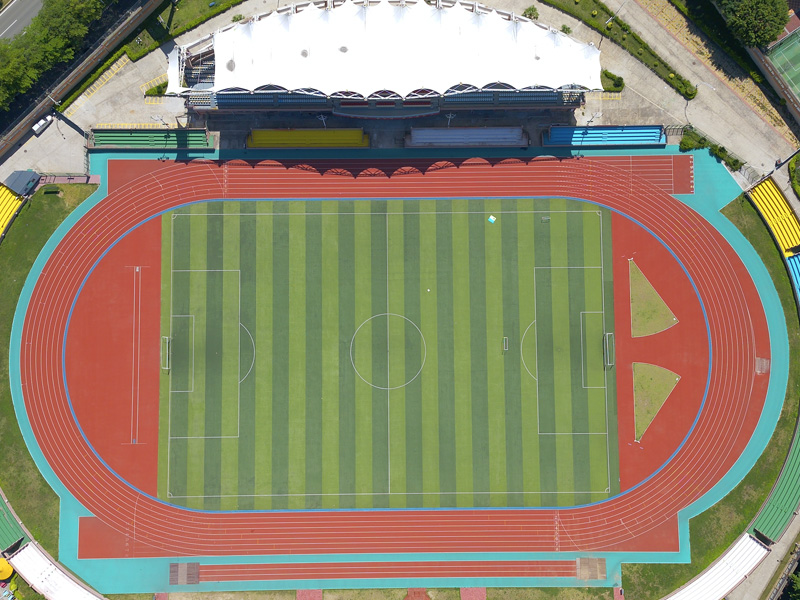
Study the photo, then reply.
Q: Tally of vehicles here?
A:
1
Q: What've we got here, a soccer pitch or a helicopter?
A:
soccer pitch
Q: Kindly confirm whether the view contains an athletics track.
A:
Yes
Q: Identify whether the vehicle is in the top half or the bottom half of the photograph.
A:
top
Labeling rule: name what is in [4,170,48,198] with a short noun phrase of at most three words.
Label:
shed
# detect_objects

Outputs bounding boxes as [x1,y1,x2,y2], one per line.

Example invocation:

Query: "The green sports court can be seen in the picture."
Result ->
[762,28,800,102]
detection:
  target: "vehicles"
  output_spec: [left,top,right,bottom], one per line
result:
[30,113,52,134]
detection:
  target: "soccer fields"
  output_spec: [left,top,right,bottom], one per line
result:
[156,198,620,510]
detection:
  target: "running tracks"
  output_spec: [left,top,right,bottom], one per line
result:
[9,146,789,593]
